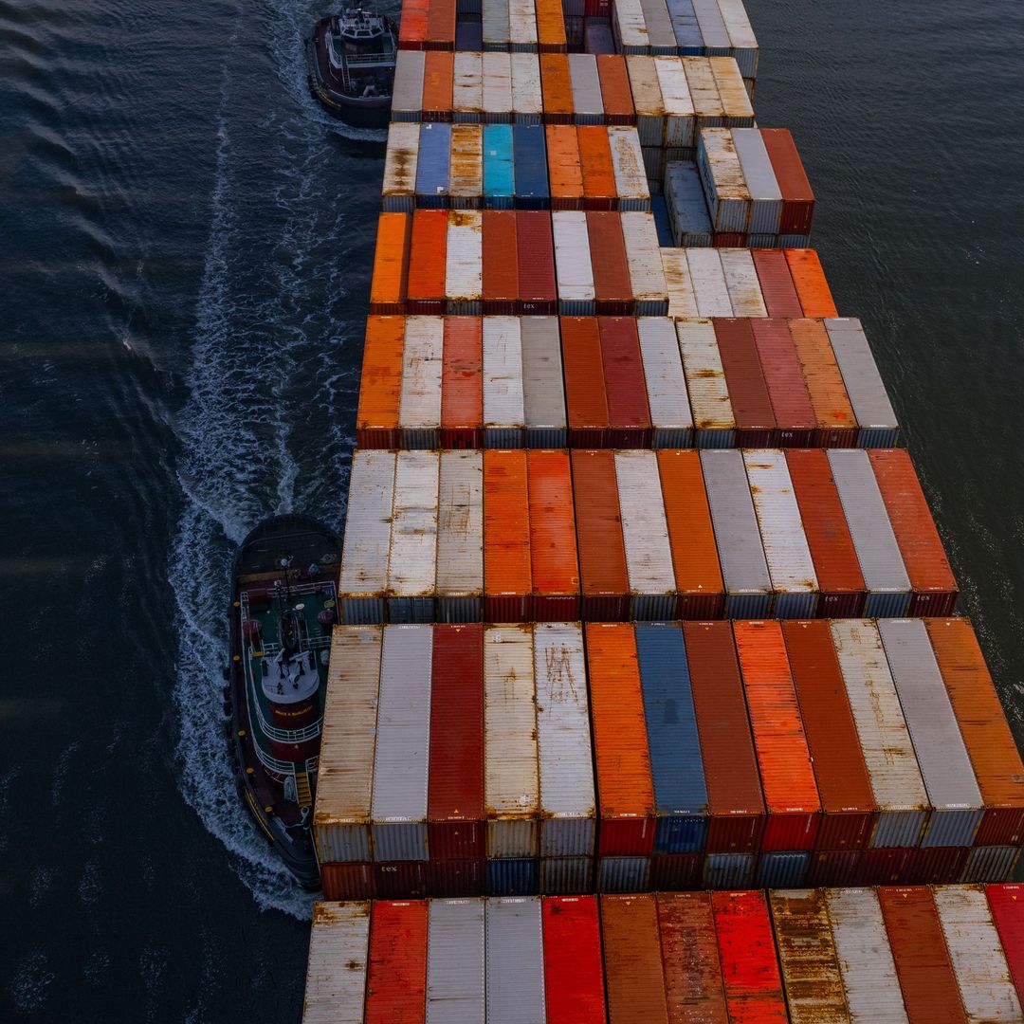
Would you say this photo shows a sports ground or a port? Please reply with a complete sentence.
The picture captures a port.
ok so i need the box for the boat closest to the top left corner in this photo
[309,0,400,131]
